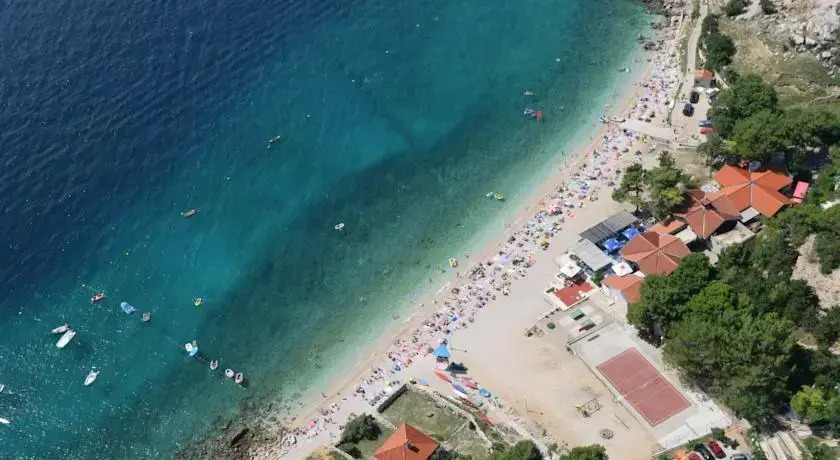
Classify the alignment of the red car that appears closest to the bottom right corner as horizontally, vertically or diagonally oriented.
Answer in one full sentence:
Seen from above, the red car that appears closest to the bottom right corner lies diagonally.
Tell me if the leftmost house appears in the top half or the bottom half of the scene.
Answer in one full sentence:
The leftmost house sits in the bottom half of the picture.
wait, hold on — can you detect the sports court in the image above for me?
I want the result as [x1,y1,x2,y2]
[568,322,731,451]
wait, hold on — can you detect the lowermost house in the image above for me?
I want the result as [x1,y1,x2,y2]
[373,422,442,460]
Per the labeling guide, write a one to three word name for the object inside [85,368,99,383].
boat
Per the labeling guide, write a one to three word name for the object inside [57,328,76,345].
boat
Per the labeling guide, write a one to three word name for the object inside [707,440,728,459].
car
